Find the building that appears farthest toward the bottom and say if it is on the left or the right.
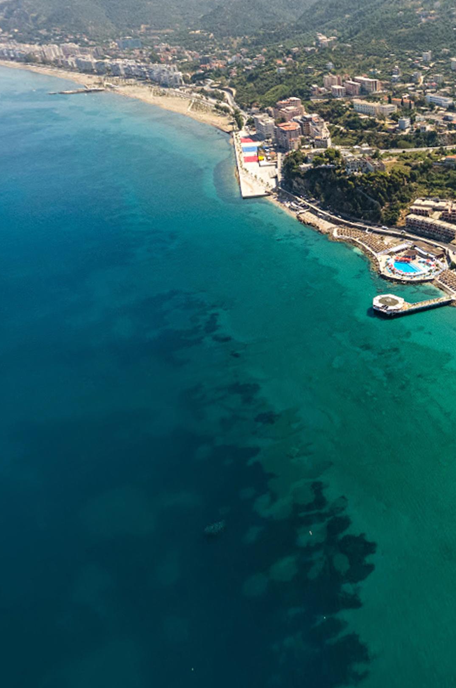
right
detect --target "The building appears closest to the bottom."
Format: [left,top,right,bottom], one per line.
[372,294,405,316]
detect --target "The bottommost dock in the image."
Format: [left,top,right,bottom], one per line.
[403,294,456,313]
